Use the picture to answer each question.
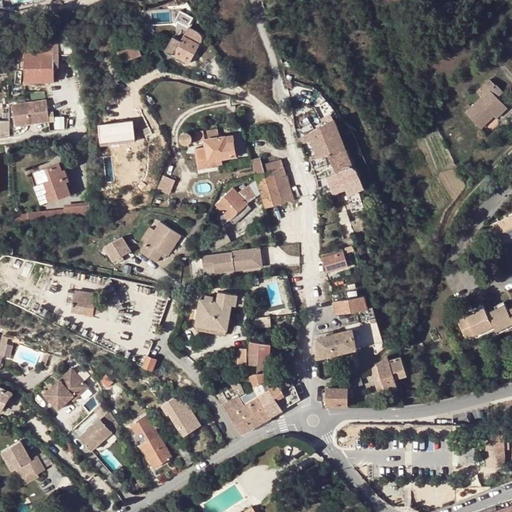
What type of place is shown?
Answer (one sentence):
This looks like a residential area.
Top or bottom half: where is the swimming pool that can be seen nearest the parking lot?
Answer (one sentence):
The swimming pool that can be seen nearest the parking lot is in the bottom half of the image.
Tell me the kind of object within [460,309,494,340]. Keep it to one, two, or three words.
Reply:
house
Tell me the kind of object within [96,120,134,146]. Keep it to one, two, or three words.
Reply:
building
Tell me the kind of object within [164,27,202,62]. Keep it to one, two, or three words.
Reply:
house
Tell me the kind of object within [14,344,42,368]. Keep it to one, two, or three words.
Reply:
swimming pool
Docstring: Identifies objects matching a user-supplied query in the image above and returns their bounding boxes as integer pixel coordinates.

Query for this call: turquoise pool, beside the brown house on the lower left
[98,447,124,472]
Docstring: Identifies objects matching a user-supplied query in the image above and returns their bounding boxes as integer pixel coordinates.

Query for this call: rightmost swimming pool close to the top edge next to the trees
[147,9,176,26]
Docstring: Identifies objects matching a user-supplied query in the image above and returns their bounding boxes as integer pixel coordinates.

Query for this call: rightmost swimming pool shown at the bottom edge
[199,466,276,512]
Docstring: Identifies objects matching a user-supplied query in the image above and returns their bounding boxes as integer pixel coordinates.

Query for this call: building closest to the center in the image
[232,248,264,272]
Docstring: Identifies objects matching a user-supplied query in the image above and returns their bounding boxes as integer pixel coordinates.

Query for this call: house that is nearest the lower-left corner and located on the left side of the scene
[0,442,44,486]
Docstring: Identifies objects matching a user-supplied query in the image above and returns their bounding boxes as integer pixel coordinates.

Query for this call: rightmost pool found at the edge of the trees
[258,276,292,316]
